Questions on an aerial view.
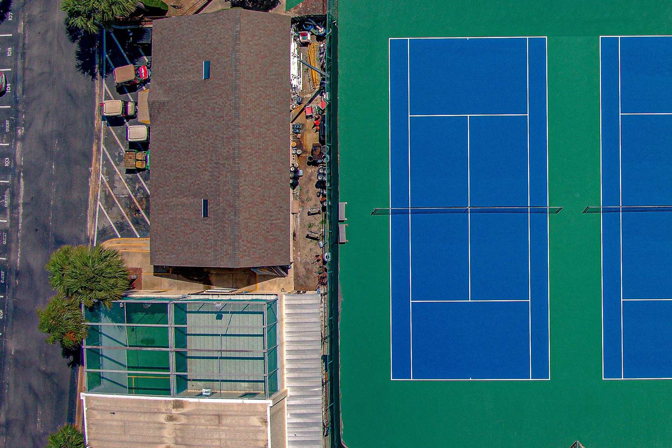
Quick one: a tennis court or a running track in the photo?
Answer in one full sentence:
It is a tennis court that can be seen here.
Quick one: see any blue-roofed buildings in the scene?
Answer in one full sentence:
No, I can see no blue-roofed building in this picture.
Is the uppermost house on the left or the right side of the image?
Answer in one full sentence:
It is on the left.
